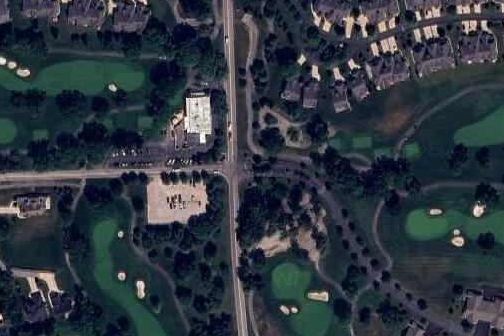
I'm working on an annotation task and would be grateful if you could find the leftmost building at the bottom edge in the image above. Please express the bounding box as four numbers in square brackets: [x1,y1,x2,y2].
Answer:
[23,294,49,320]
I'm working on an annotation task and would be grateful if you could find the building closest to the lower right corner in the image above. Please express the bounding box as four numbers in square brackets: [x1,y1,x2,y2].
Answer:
[464,296,504,326]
